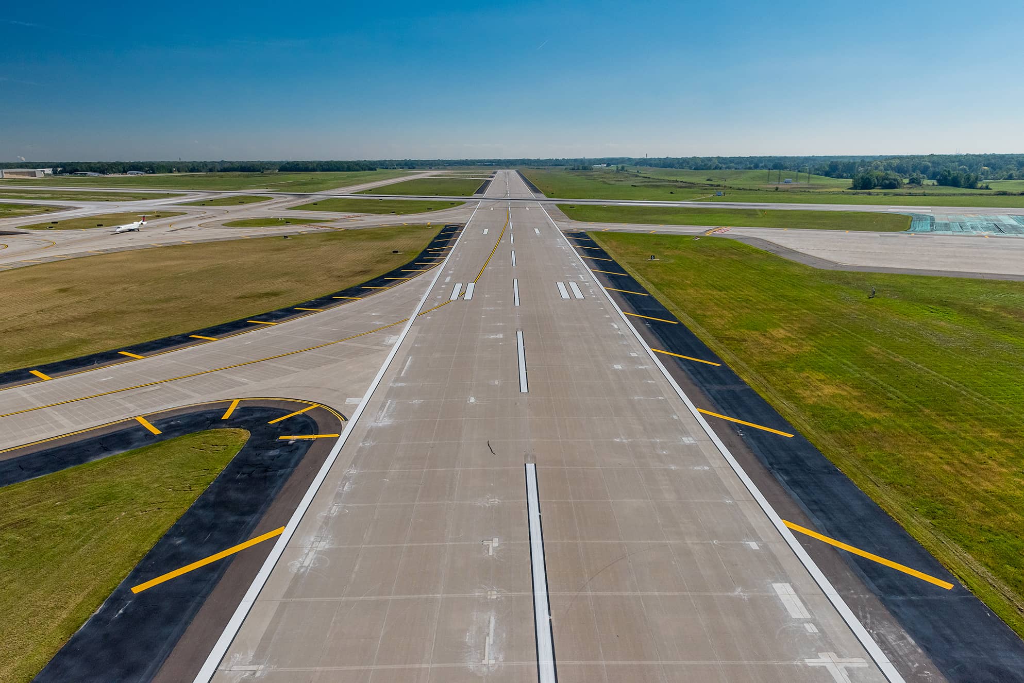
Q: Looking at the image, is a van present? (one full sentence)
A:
No, there isn't any van down there.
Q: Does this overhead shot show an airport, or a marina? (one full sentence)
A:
The picture captures an airport.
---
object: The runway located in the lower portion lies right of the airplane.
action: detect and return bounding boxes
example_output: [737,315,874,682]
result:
[192,170,906,683]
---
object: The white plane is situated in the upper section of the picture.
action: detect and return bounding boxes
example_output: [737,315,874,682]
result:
[114,214,154,233]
